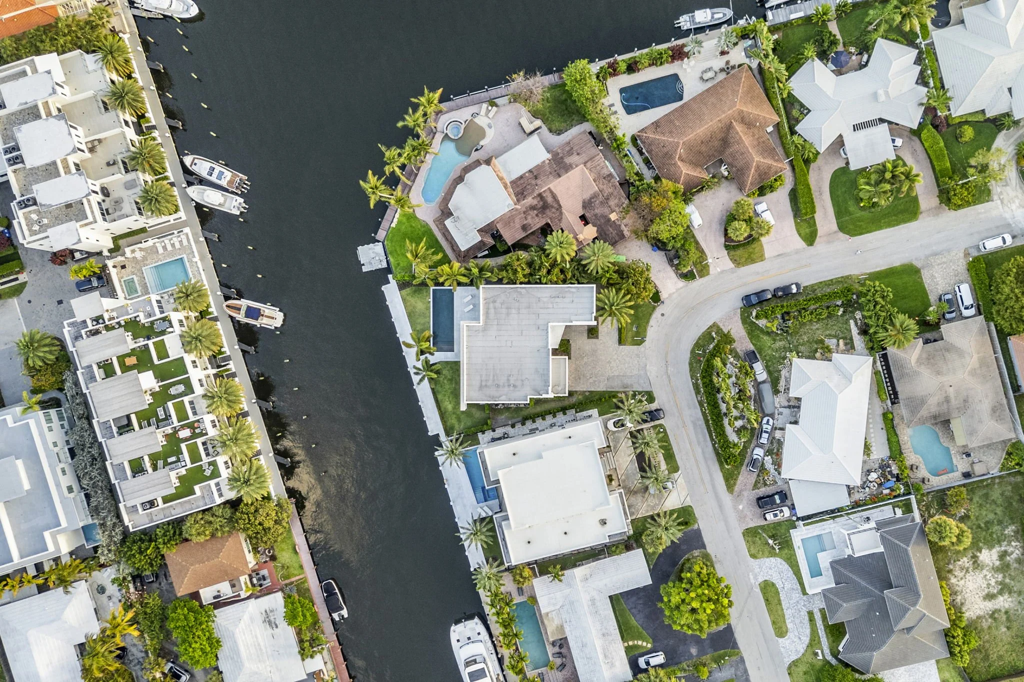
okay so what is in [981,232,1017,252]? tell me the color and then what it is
white car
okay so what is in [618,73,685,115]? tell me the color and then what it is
blue swimming pool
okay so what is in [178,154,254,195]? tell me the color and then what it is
white boat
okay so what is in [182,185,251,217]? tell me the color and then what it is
white boat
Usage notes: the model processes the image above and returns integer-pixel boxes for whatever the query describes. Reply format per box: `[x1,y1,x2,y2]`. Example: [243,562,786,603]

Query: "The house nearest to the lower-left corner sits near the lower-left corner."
[0,578,107,682]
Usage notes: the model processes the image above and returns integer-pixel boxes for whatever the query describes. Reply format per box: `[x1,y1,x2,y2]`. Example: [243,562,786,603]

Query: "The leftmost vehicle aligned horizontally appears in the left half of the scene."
[71,276,105,292]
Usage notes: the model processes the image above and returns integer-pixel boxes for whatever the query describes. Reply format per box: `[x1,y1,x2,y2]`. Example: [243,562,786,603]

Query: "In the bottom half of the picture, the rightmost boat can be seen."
[453,620,507,682]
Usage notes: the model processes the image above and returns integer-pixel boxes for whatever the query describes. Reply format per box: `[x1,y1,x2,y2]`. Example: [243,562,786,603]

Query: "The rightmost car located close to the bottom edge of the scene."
[638,653,667,670]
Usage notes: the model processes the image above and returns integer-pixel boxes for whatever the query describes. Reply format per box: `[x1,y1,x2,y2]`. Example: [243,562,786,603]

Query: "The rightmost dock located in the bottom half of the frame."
[382,274,501,571]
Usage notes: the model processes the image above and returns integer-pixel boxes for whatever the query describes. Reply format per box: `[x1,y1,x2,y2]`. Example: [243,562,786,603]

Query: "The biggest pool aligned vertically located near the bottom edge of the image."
[512,600,552,673]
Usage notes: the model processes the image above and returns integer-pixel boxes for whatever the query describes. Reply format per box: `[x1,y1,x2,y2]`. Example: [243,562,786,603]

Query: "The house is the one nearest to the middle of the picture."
[460,284,596,411]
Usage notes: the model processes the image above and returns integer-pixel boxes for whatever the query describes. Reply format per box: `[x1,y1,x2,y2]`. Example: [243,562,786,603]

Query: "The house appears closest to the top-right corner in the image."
[929,0,1024,121]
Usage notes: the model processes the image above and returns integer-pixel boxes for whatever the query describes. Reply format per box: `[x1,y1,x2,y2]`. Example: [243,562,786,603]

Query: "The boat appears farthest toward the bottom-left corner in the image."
[320,582,349,625]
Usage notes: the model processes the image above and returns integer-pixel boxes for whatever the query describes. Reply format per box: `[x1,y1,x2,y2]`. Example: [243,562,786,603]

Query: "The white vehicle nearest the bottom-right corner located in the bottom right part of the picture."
[763,507,794,523]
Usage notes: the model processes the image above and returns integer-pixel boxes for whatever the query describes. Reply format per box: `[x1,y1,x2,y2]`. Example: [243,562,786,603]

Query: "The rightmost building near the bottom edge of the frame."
[817,513,950,675]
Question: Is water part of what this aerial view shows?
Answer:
Yes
